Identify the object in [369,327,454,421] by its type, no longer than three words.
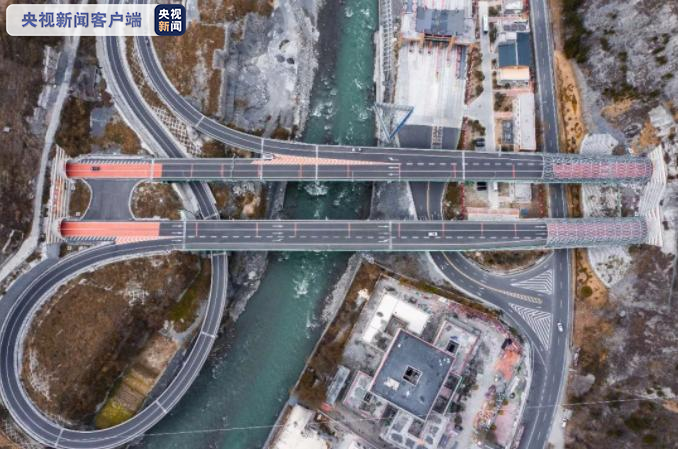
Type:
building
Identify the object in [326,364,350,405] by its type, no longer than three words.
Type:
shed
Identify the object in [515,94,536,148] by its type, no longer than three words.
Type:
house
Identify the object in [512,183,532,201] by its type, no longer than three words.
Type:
house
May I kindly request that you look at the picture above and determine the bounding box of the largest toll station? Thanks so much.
[399,8,476,53]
